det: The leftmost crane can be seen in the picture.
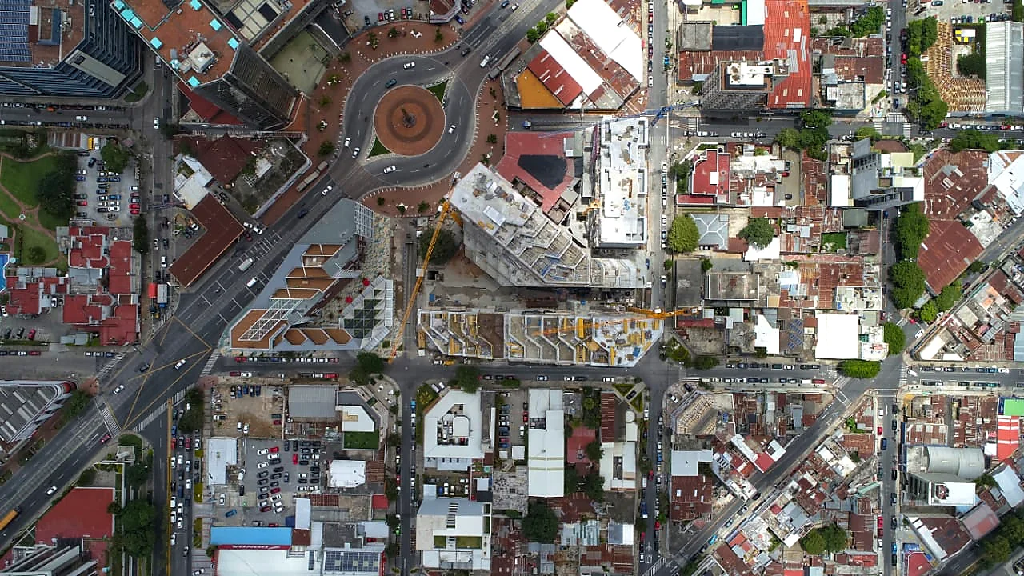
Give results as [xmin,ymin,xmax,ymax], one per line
[388,168,466,362]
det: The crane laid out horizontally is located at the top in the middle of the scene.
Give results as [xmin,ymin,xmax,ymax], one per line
[538,98,701,139]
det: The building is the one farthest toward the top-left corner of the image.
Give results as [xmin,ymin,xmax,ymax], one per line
[0,0,141,97]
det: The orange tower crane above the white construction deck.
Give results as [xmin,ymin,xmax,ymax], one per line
[534,302,705,336]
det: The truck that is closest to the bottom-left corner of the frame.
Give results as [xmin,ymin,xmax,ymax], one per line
[0,507,23,530]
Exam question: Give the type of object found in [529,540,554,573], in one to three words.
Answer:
shed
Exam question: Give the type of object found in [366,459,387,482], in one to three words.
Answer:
house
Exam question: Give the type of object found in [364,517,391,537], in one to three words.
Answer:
house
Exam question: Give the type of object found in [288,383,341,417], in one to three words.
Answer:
building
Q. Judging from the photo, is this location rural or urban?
urban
